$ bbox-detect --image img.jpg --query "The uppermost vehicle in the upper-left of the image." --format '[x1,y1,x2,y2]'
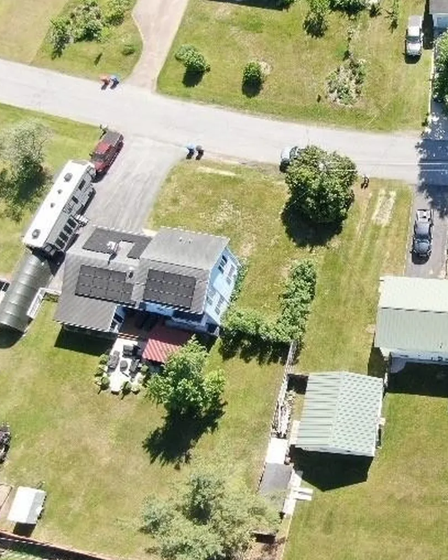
[93,132,122,173]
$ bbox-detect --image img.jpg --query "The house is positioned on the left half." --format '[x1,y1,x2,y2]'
[56,227,241,363]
